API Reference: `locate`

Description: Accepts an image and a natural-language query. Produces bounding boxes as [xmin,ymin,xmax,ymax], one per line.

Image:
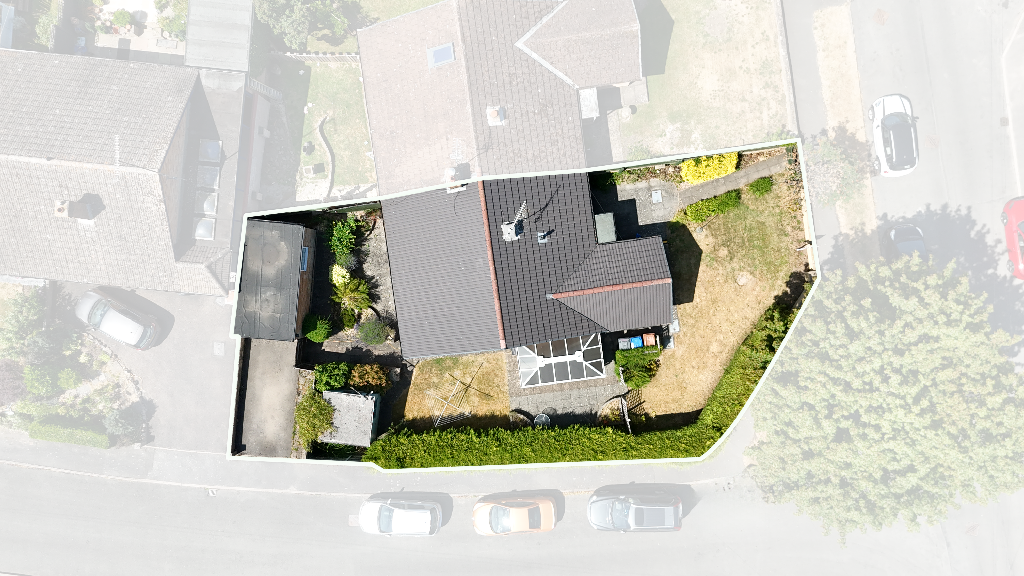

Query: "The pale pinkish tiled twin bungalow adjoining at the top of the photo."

[354,0,641,202]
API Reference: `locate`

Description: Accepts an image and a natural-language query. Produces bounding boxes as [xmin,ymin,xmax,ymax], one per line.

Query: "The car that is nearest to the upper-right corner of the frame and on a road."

[871,97,919,174]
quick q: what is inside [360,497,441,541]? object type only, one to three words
car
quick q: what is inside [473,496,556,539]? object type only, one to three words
car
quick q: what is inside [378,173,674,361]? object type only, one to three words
house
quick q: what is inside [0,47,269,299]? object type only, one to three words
house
